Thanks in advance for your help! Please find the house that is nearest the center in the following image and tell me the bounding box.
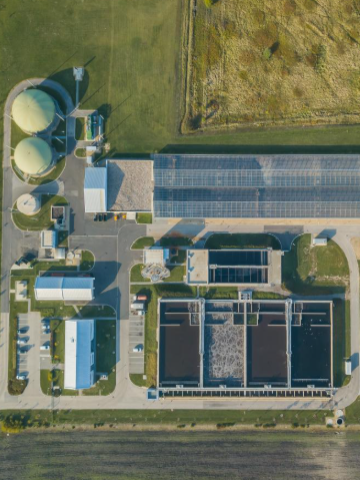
[145,249,169,263]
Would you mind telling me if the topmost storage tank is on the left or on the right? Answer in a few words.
left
